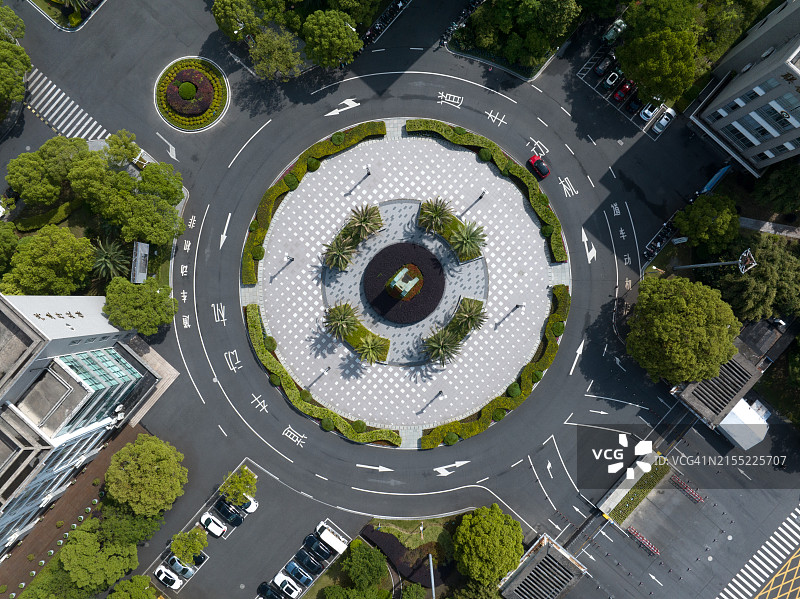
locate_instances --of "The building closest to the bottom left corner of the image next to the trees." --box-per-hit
[0,295,183,538]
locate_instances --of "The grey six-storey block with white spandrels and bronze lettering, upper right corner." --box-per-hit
[677,0,800,180]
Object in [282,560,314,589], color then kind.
blue car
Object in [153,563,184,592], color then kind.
white car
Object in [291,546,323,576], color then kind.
black car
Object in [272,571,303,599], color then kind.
white car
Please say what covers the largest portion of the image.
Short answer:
paved ground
